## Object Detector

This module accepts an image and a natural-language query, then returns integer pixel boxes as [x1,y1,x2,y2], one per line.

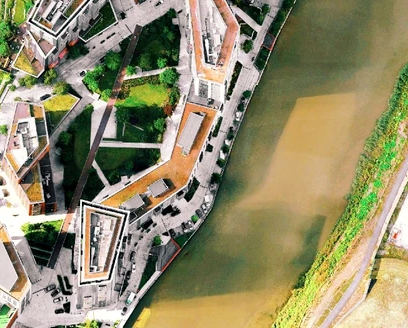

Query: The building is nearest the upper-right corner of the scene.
[184,0,239,109]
